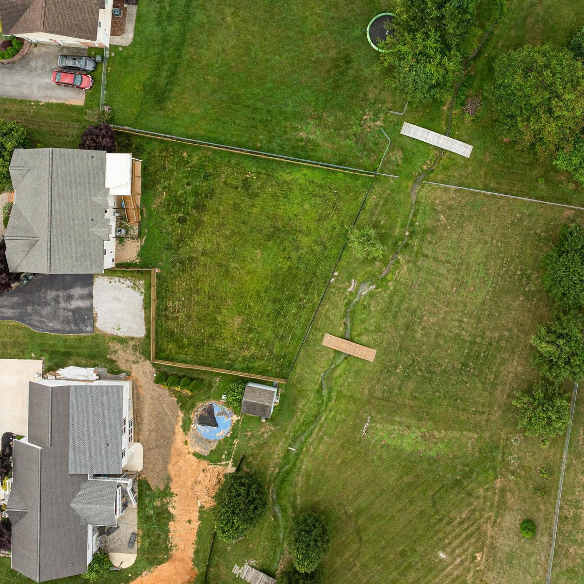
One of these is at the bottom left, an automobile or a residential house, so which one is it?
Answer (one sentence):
What appears at the bottom left is a residential house.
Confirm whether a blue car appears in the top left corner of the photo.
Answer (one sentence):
No, there is no blue car in the top left corner of the photo.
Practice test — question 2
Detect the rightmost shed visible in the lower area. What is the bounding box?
[242,383,277,415]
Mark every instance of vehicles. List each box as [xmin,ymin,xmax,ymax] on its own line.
[57,54,98,73]
[51,70,94,92]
